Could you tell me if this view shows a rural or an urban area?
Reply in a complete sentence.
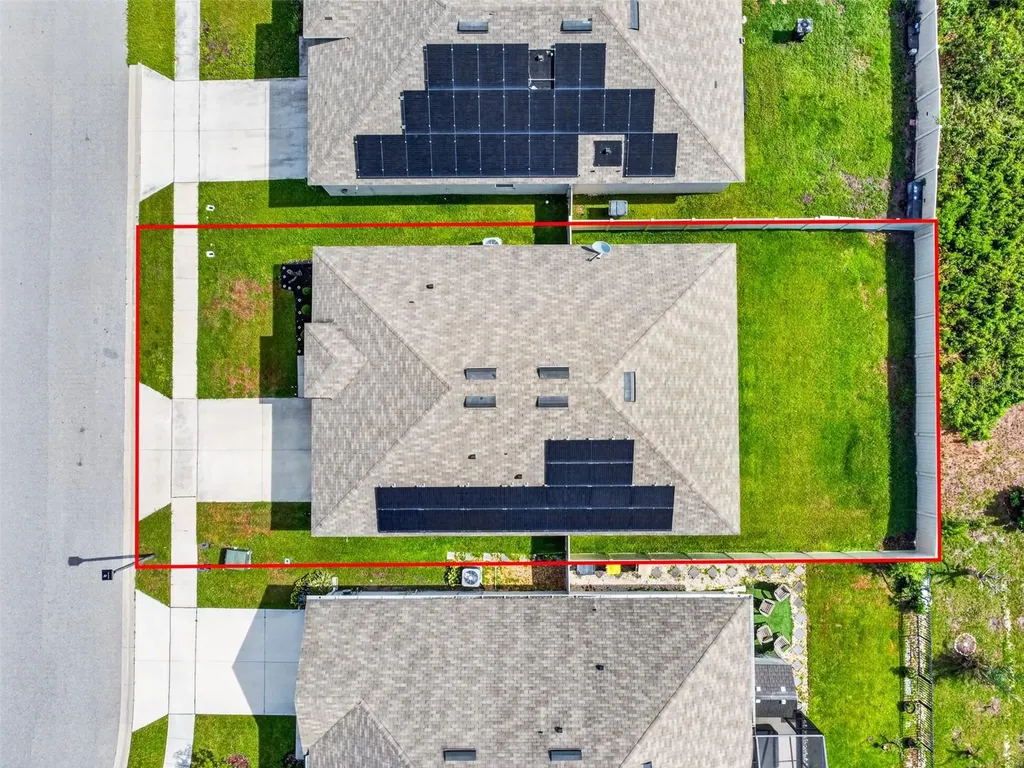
This place is urban.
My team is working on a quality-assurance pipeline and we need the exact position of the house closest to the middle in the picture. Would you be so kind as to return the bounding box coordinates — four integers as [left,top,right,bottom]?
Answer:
[304,243,740,536]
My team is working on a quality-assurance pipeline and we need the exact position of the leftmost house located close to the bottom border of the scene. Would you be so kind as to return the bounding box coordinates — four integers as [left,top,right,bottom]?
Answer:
[293,582,758,768]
